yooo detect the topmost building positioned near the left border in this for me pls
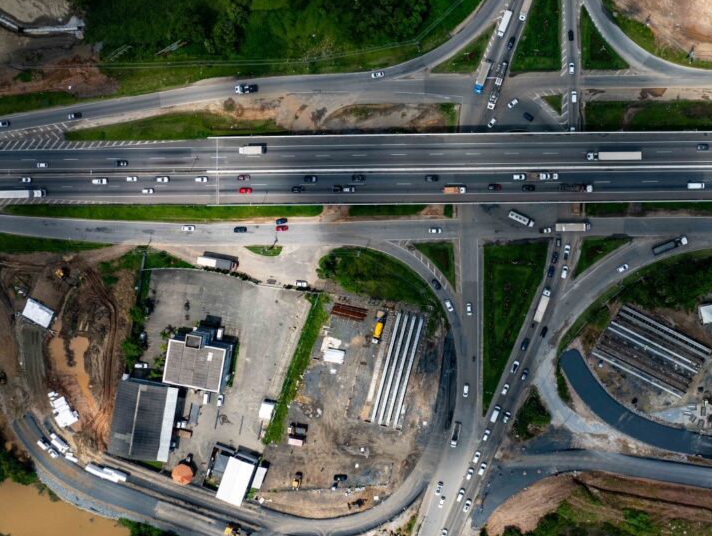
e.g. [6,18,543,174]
[22,297,60,328]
